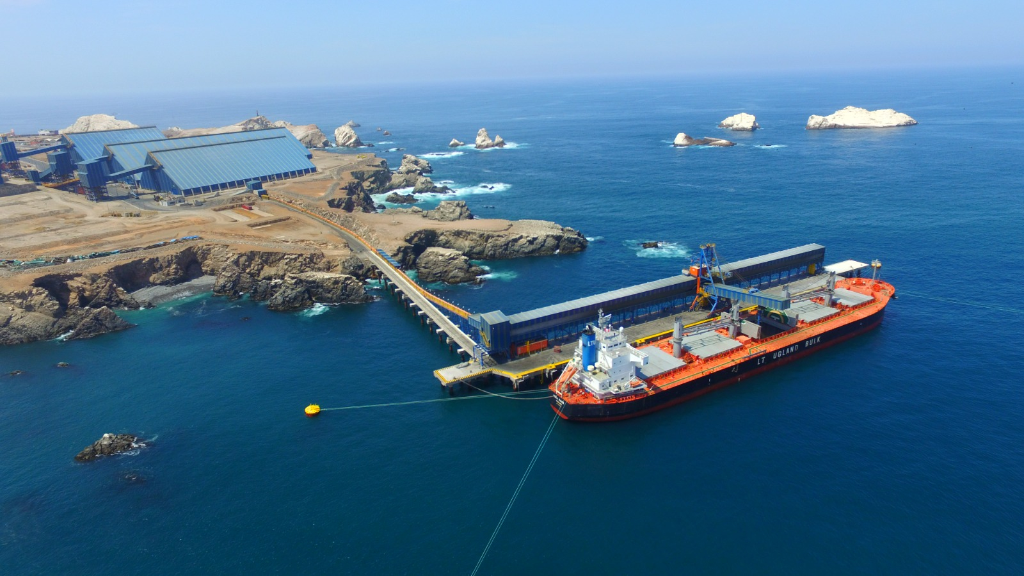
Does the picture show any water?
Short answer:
Yes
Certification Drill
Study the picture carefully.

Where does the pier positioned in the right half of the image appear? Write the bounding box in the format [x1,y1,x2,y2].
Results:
[434,268,856,399]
